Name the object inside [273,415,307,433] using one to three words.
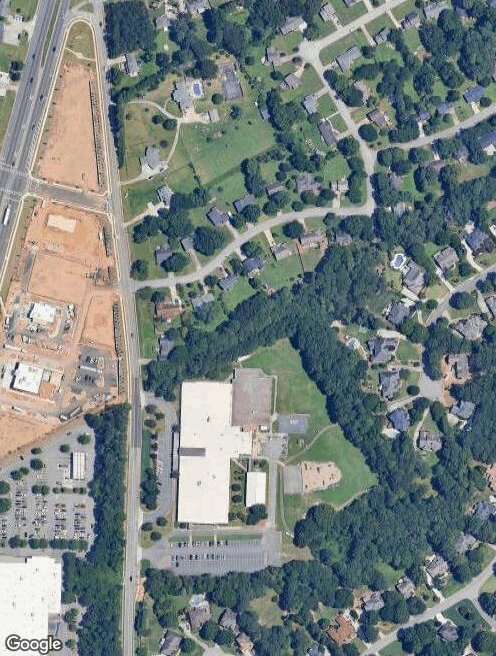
sports court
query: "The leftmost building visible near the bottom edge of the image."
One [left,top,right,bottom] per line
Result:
[0,557,62,656]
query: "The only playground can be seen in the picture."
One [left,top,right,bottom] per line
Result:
[303,461,341,493]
